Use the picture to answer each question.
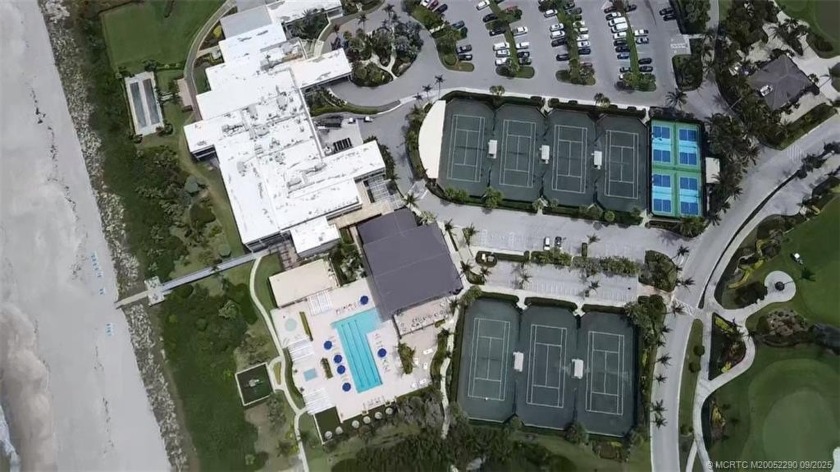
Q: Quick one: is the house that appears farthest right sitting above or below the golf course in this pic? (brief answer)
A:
above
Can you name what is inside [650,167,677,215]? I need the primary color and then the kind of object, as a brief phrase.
blue sports court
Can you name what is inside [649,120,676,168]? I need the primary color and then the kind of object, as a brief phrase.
blue sports court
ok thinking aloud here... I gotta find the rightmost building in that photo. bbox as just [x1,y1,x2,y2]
[746,53,815,110]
